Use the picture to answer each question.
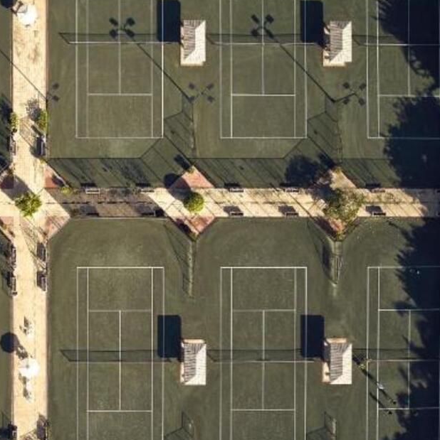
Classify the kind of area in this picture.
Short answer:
sports ground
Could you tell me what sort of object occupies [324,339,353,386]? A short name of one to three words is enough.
building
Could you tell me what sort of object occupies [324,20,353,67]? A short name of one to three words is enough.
building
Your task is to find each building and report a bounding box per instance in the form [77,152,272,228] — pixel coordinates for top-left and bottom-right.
[324,339,353,386]
[324,20,353,67]
[180,20,206,65]
[180,340,206,386]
